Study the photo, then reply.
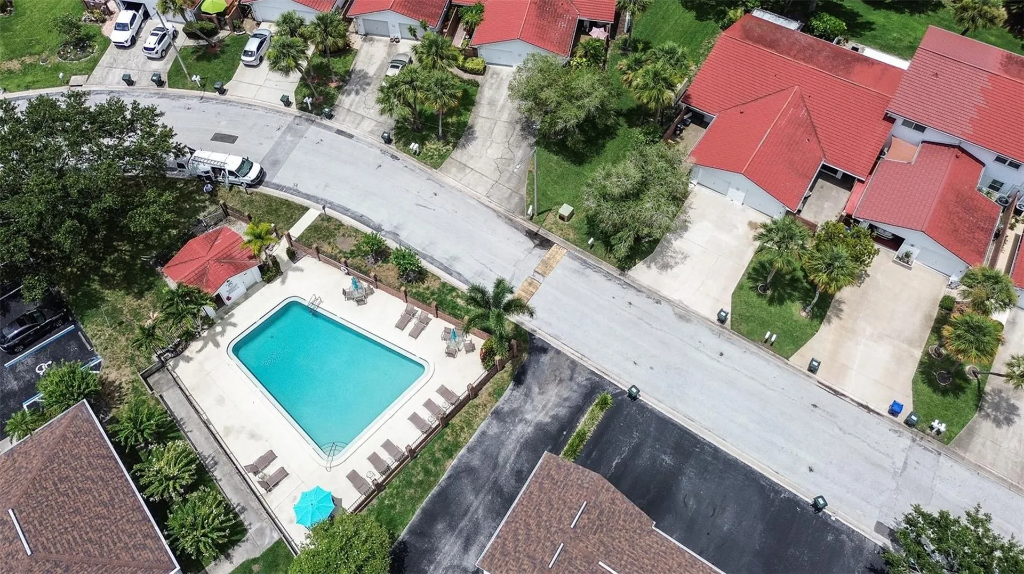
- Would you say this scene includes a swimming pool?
Yes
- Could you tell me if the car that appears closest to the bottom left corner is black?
Yes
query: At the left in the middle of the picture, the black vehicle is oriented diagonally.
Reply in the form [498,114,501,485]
[0,302,68,356]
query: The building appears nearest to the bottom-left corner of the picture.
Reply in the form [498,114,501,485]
[0,399,182,574]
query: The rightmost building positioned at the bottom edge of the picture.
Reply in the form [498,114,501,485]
[477,451,729,574]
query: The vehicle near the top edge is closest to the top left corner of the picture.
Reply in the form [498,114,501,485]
[110,3,152,48]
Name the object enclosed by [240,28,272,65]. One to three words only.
car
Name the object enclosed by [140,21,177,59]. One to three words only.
car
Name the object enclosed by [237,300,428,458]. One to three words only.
swimming pool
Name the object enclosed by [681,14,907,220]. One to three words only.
house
